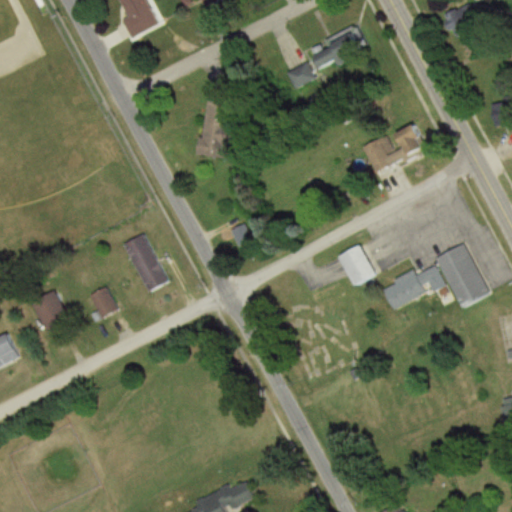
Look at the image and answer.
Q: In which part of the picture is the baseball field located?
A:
top left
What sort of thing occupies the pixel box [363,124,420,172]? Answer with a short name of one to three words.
house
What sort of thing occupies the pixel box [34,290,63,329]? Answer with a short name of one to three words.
house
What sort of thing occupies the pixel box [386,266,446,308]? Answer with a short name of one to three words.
building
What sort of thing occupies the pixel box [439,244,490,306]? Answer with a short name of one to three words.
building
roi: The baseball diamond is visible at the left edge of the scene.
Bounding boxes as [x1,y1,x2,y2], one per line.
[0,0,147,257]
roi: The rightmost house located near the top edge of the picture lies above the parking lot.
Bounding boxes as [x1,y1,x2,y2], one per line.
[445,2,471,33]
